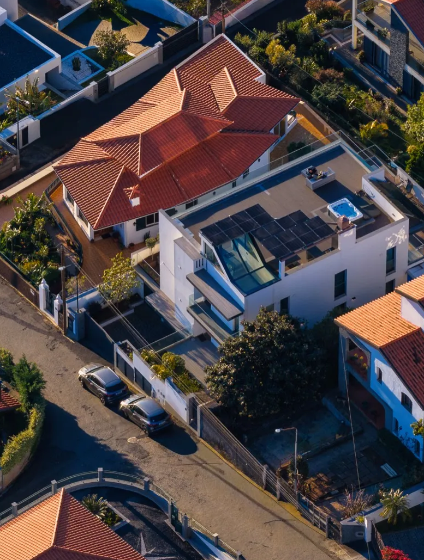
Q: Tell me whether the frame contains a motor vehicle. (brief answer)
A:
Yes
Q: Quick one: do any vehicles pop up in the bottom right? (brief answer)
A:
No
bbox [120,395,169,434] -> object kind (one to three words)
car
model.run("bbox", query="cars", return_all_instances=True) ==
[79,365,127,405]
[120,395,169,434]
